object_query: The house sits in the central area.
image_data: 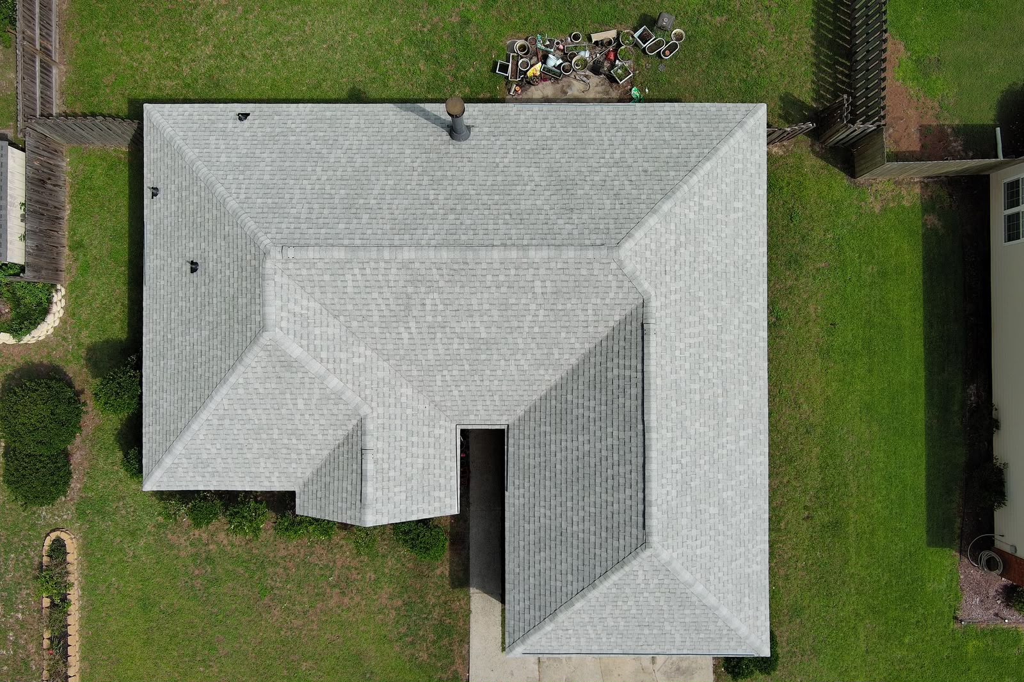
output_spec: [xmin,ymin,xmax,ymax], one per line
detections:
[142,98,771,659]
